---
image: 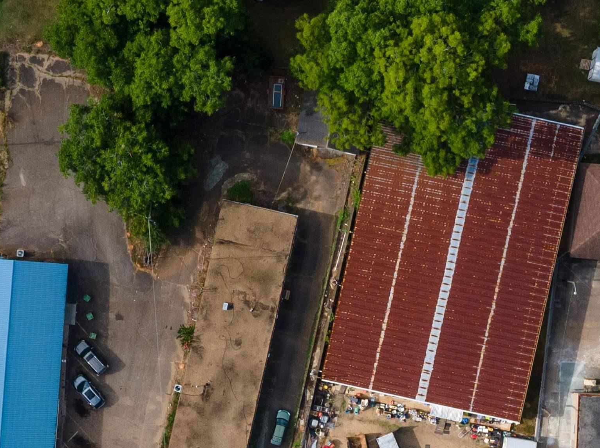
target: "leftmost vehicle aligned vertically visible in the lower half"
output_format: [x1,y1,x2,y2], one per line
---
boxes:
[270,408,291,447]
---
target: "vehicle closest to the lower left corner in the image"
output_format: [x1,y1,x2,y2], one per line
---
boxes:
[73,374,107,409]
